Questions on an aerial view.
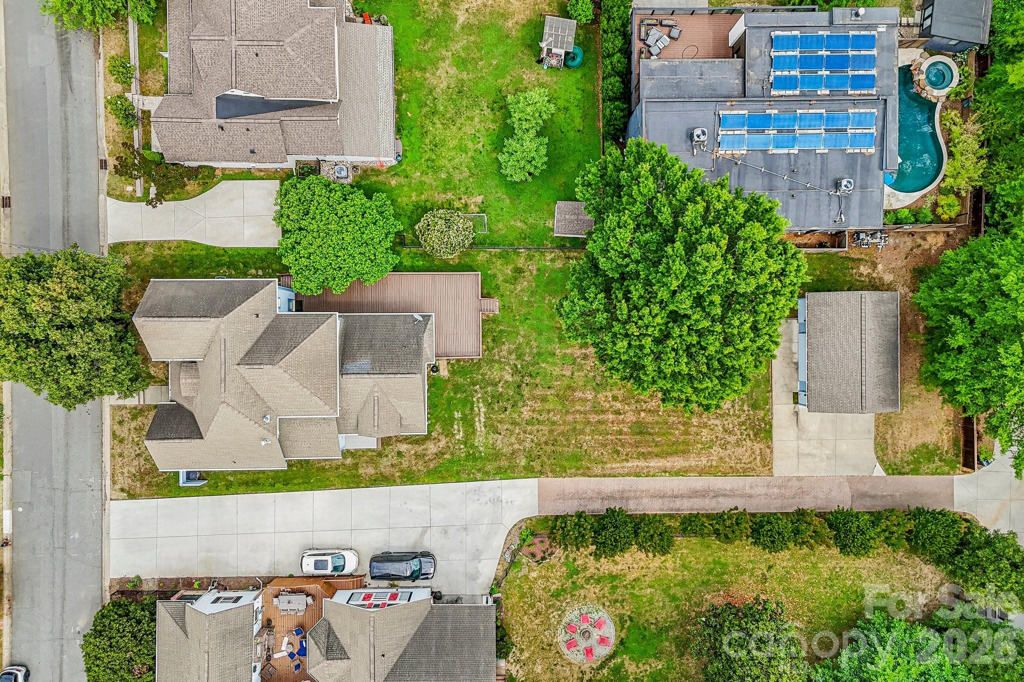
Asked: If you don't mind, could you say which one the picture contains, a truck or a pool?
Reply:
pool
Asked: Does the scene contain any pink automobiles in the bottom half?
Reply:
No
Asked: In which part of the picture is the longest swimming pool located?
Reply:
top right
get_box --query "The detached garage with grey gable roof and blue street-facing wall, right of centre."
[797,290,901,415]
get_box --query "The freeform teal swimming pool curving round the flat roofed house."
[885,65,949,197]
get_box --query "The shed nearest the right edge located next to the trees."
[906,0,990,59]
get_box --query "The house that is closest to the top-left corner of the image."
[151,0,399,169]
